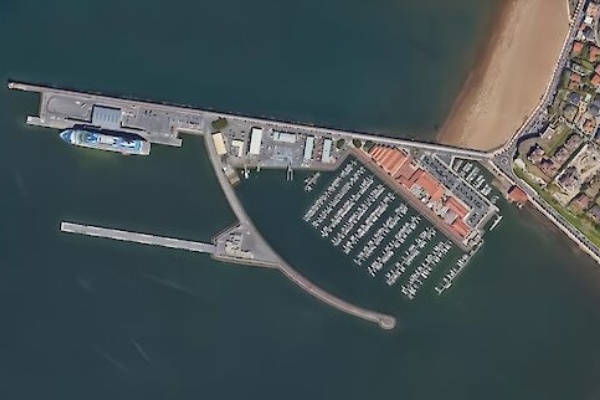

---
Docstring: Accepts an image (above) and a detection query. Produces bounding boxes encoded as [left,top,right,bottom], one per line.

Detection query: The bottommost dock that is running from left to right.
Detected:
[61,223,219,253]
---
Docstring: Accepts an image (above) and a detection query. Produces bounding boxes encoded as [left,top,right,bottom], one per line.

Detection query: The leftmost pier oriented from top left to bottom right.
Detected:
[204,133,396,330]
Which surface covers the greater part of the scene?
water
